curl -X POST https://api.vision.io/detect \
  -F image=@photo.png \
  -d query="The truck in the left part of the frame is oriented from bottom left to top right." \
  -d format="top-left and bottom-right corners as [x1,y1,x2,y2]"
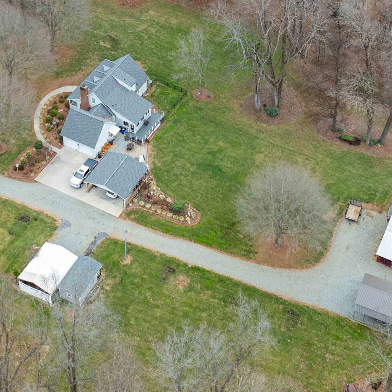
[70,155,97,186]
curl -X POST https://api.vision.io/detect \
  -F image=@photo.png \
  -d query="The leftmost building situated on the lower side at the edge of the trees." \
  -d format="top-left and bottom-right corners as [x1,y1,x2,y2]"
[16,242,81,306]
